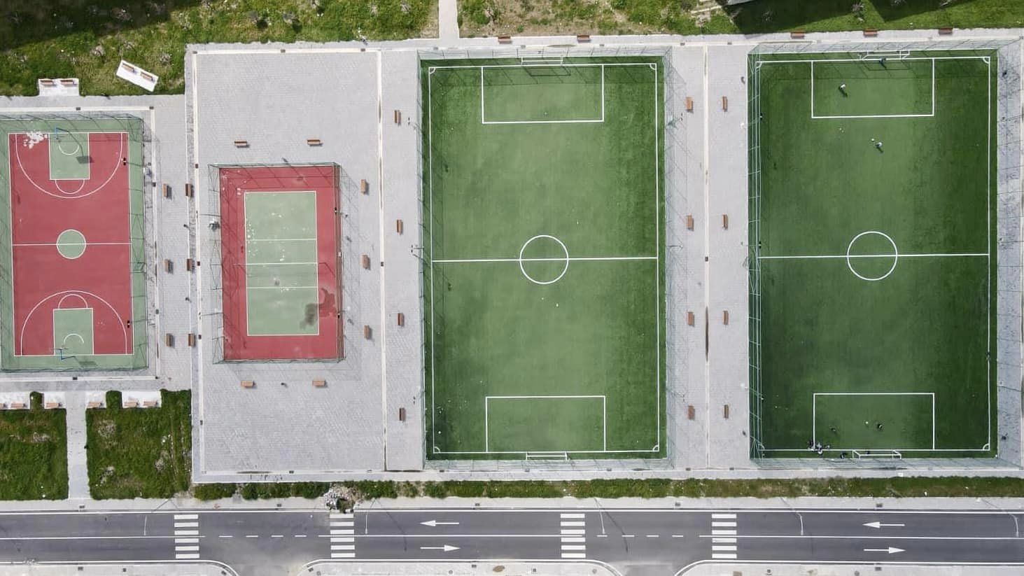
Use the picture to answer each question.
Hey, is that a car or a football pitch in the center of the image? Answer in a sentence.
What appears in the center of the image is a football pitch.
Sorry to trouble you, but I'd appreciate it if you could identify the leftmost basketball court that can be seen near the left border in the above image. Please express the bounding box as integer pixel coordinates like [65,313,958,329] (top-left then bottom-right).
[0,118,148,370]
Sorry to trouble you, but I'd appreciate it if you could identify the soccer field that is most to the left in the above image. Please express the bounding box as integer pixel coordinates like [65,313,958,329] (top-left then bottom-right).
[420,55,668,460]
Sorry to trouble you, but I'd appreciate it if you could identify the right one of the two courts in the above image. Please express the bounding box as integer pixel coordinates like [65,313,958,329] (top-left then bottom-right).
[219,166,344,361]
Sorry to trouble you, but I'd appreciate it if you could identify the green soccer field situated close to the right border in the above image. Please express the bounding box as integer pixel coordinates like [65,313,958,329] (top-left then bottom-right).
[748,48,998,460]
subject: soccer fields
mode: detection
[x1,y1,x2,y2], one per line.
[420,55,668,460]
[748,48,998,460]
